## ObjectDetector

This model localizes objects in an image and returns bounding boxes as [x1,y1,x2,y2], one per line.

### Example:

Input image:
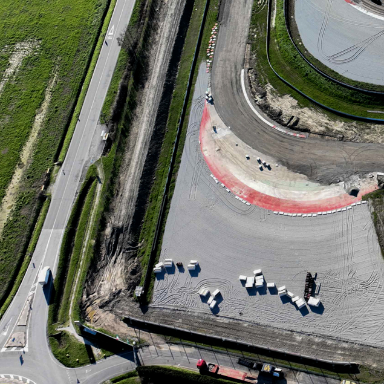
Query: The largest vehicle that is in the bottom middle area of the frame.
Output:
[188,352,255,383]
